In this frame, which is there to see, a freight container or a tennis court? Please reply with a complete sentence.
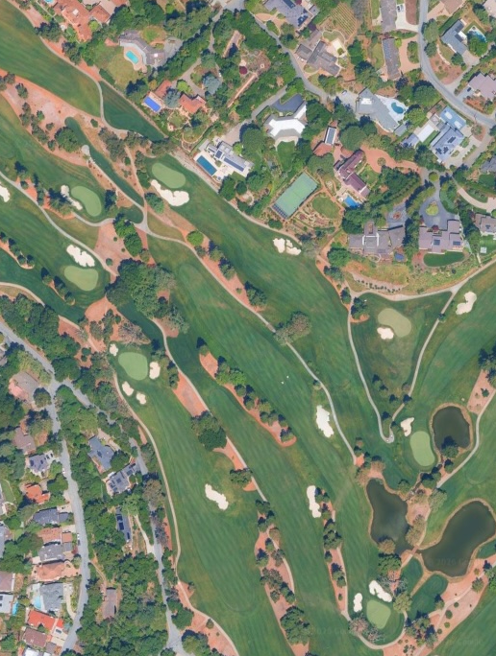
The image shows a tennis court.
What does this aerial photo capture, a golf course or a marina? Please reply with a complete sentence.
This image shows a golf course.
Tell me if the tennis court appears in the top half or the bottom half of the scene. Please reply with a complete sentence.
You can find the tennis court in the top half.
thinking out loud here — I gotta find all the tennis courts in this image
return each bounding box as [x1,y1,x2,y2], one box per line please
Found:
[273,173,318,217]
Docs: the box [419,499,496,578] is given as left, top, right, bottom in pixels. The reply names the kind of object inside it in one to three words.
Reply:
pond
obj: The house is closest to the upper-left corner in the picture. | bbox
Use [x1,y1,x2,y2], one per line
[49,0,113,43]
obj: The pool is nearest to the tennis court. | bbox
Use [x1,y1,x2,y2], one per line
[342,192,361,210]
